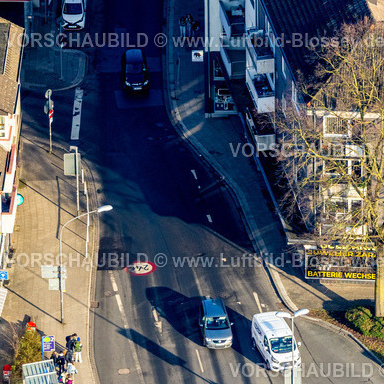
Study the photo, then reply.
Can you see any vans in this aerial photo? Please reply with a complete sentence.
Yes, a van can be made out from above.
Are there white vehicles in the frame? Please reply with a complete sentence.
Yes, you can see a white vehicle in this photo.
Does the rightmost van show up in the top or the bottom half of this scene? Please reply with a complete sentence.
It is in the bottom half that the rightmost van appears.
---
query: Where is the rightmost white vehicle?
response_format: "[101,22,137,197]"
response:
[242,298,299,368]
